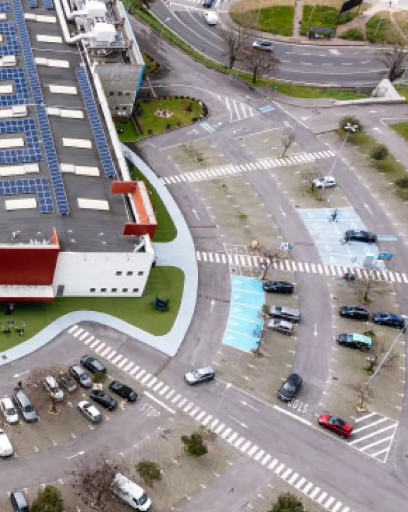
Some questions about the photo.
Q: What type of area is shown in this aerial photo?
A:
parking lot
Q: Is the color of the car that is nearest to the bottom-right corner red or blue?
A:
red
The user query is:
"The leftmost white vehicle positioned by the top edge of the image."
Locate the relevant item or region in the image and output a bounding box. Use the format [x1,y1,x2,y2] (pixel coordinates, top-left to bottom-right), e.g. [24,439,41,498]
[202,10,221,27]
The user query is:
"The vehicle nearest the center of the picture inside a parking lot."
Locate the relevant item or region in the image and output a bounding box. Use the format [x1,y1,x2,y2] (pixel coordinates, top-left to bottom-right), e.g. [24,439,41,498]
[262,280,295,296]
